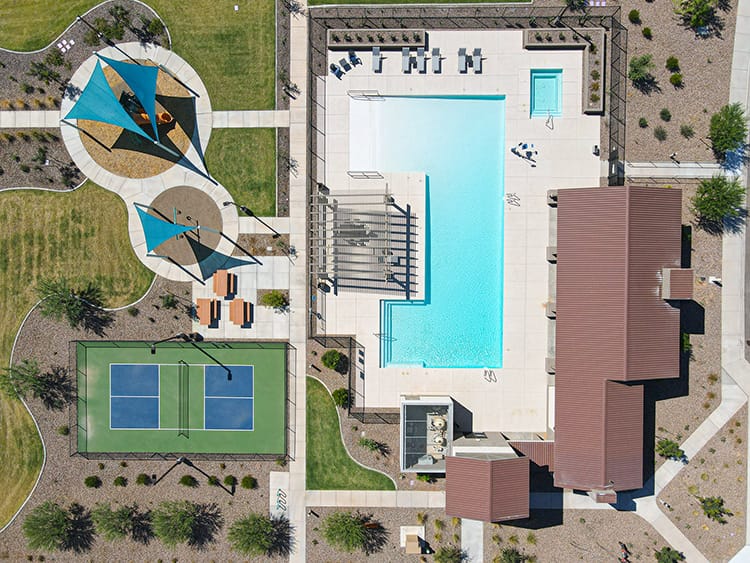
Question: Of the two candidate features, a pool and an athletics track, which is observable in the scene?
pool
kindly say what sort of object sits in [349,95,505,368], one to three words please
swimming pool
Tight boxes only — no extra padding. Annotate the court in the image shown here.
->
[77,341,286,454]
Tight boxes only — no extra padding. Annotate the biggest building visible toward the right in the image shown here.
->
[547,185,692,503]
